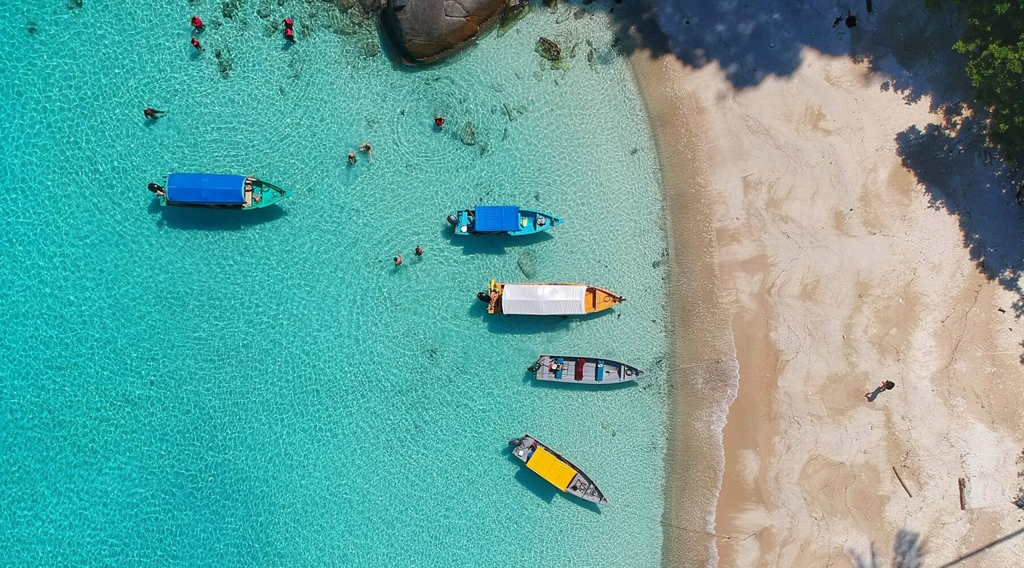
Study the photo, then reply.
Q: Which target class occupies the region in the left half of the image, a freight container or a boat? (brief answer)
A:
boat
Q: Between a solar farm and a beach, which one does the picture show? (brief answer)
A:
beach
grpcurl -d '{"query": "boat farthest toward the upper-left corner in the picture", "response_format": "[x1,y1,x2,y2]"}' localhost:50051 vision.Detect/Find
[148,172,292,208]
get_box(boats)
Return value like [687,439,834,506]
[444,205,565,236]
[148,172,292,208]
[476,282,626,315]
[525,356,652,386]
[507,436,613,510]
